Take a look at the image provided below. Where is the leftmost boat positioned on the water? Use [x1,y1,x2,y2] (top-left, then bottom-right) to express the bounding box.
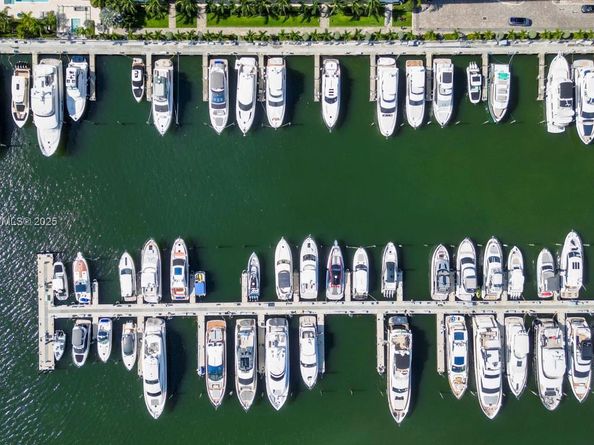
[8,54,34,129]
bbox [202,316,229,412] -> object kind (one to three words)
boat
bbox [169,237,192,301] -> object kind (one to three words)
boat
